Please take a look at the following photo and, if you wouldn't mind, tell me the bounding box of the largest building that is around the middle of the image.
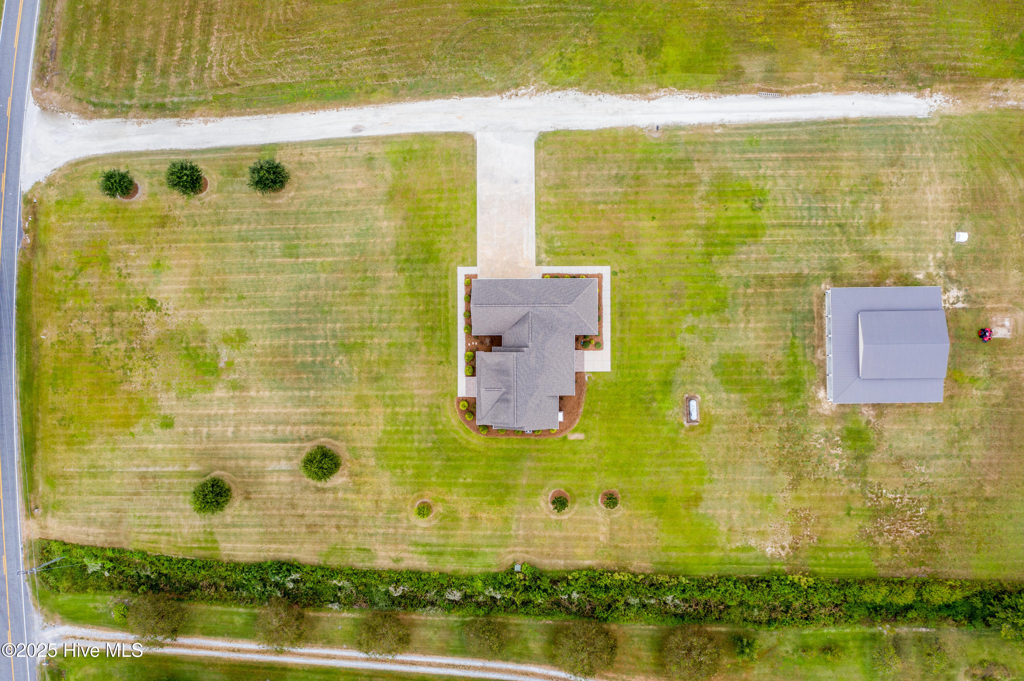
[470,278,598,431]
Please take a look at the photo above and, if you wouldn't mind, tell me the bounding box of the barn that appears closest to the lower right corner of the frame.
[824,286,950,404]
